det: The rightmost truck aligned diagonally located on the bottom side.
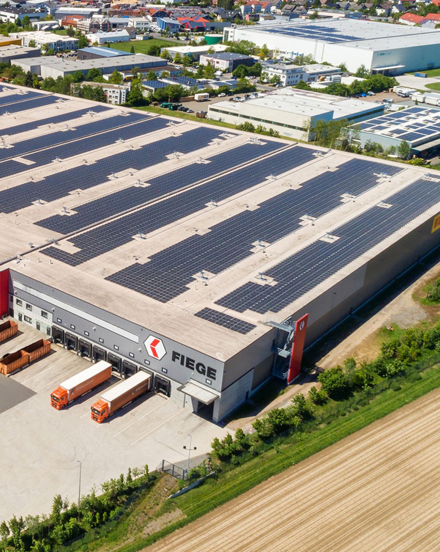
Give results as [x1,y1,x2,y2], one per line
[92,370,153,423]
